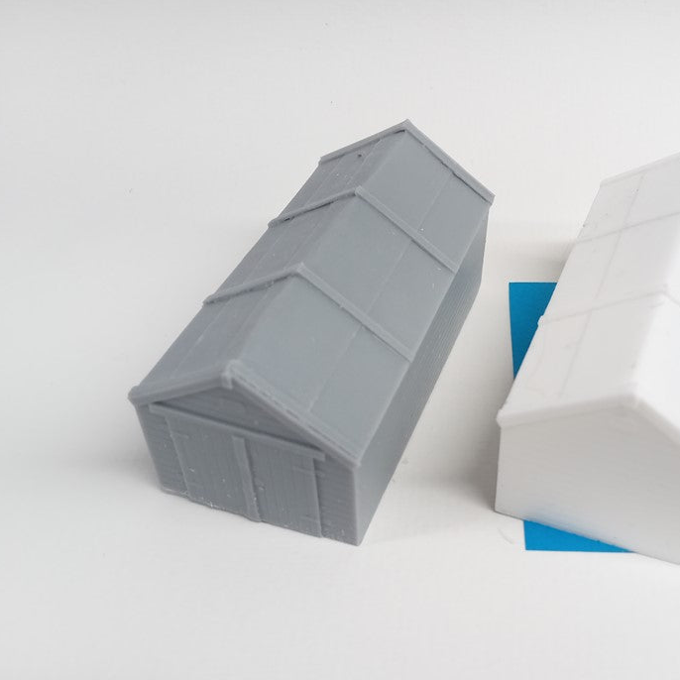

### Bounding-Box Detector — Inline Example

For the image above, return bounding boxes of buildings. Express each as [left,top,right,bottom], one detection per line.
[496,153,680,562]
[127,119,497,545]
